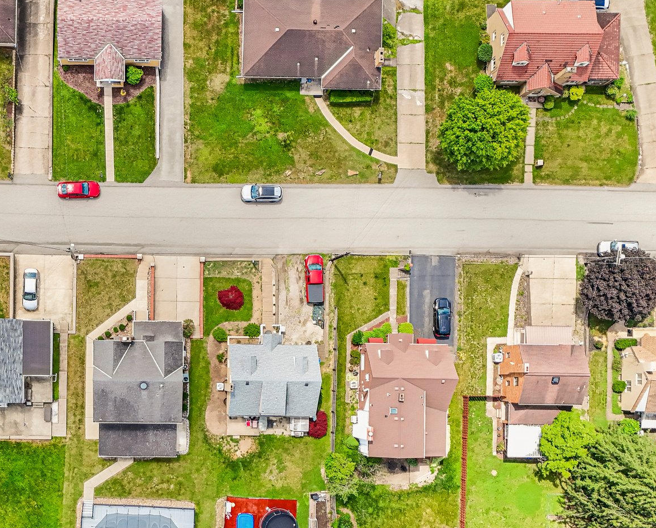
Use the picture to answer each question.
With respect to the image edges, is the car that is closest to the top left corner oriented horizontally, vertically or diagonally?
horizontally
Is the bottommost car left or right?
right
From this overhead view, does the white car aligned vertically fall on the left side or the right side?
left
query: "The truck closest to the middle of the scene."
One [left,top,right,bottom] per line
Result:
[303,253,325,306]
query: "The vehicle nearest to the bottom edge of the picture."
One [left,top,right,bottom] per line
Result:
[430,296,453,339]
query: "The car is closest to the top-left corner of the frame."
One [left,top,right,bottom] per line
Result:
[56,179,101,200]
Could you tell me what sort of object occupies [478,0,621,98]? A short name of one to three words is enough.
house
